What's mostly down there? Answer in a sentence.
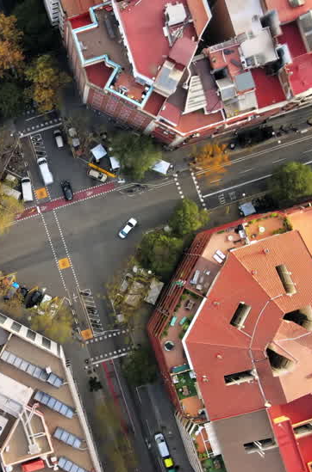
What you mostly see from above here is buildings.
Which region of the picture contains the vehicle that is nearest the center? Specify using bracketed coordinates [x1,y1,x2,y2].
[117,217,137,238]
